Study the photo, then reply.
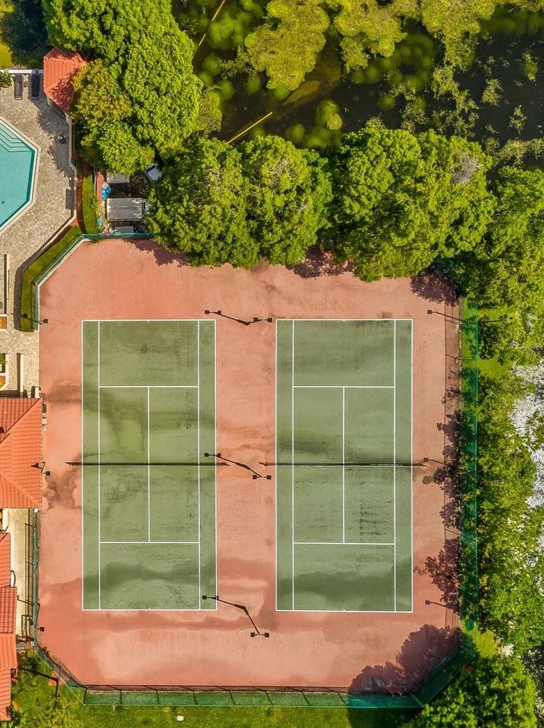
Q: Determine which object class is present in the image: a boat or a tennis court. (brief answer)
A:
tennis court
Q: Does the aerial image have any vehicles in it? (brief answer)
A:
No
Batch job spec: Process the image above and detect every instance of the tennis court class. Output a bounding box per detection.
[268,319,430,612]
[73,319,228,611]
